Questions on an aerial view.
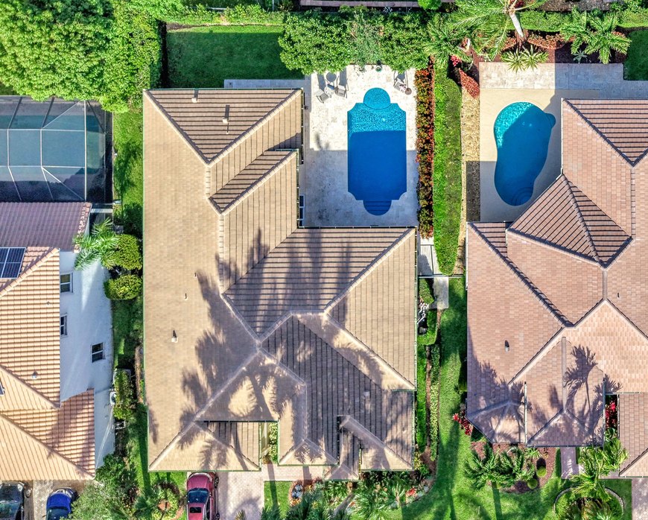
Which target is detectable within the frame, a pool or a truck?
pool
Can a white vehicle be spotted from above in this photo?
No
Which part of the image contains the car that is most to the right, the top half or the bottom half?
bottom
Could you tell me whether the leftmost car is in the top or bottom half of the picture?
bottom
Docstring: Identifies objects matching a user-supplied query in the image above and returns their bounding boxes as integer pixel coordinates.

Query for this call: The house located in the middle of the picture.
[141,87,419,482]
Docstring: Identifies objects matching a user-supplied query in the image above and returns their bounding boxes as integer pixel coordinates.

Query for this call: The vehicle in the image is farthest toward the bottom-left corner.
[0,484,35,520]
